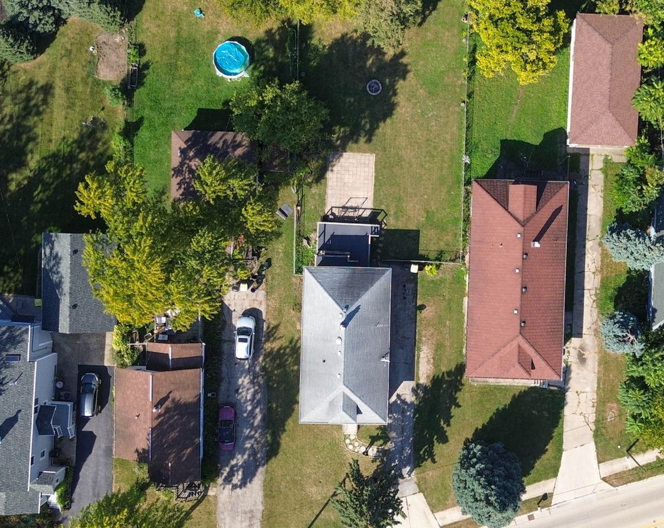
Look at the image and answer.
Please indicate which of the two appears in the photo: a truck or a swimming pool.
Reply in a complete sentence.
I can see a swimming pool in this picture.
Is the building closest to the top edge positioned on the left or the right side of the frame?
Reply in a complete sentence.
The building closest to the top edge appears in the right half of the scene.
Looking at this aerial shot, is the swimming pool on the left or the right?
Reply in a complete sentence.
The swimming pool appears in the left half of the scene.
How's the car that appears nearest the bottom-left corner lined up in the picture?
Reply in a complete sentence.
The car that appears nearest the bottom-left corner runs vertically in the image.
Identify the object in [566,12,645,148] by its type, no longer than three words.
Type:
building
